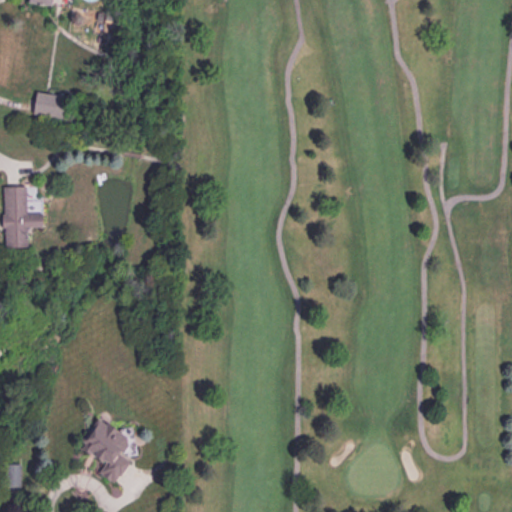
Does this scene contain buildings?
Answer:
Yes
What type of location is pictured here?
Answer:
golf course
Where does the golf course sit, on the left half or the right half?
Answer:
right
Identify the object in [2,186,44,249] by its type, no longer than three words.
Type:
house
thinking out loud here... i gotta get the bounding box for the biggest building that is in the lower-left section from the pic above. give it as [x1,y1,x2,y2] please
[88,420,131,482]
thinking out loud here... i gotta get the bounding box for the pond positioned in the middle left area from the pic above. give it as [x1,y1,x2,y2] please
[98,179,132,241]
